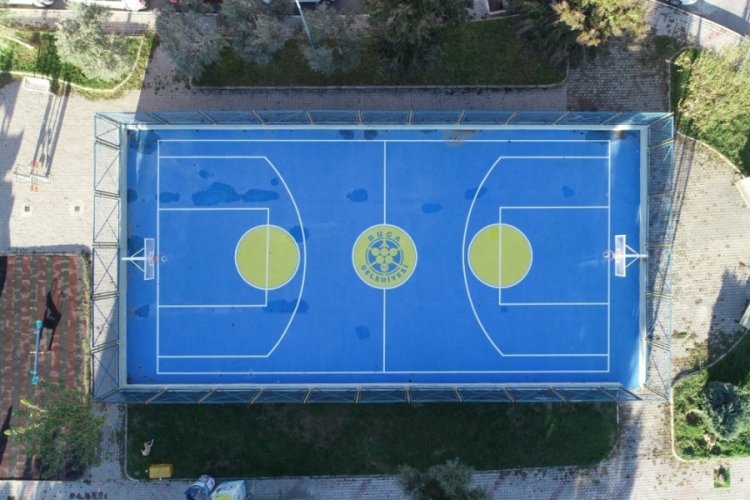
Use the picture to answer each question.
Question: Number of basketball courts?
1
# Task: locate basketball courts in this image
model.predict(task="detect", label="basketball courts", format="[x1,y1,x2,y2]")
[126,130,639,385]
